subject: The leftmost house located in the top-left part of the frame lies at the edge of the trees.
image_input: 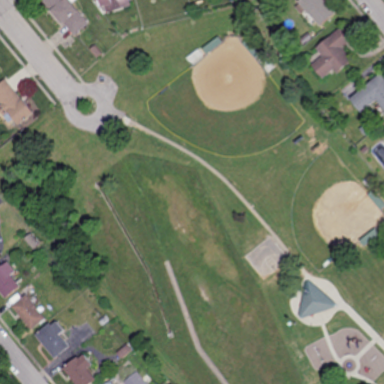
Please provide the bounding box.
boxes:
[0,76,34,126]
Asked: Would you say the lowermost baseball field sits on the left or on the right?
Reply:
right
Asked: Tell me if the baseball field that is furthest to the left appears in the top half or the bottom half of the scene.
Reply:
top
